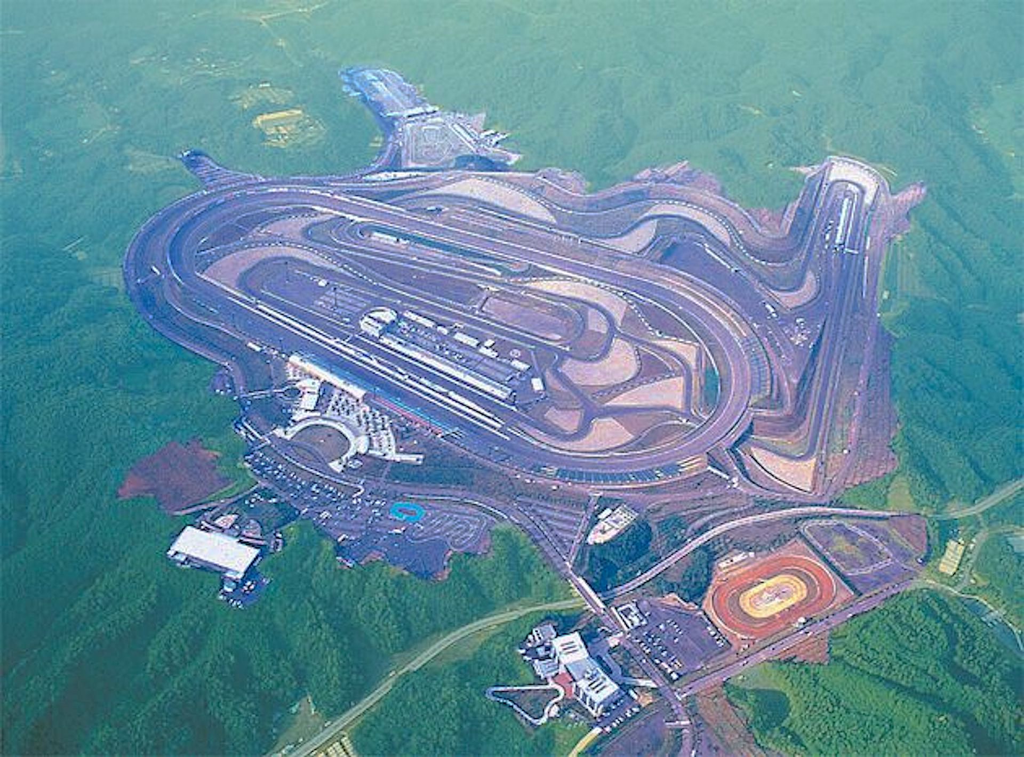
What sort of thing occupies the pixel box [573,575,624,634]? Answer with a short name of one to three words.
bridge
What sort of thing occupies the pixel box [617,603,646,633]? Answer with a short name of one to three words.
building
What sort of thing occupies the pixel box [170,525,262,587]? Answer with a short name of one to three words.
building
